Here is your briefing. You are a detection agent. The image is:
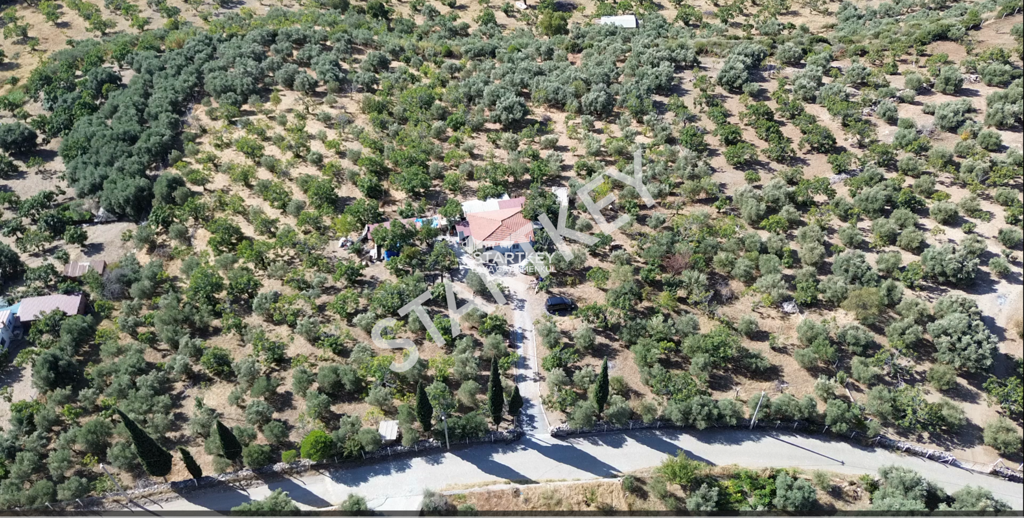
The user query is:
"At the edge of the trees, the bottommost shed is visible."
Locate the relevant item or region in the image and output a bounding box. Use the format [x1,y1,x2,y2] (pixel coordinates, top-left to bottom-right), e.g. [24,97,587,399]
[378,420,401,448]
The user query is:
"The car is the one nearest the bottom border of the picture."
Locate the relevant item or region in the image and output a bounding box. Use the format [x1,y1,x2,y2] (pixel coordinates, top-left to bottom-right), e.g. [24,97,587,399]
[544,298,575,316]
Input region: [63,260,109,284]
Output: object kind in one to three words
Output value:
building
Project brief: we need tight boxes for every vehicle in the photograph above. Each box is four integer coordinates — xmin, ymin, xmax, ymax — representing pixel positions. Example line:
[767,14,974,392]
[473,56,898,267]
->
[510,258,536,276]
[544,298,575,316]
